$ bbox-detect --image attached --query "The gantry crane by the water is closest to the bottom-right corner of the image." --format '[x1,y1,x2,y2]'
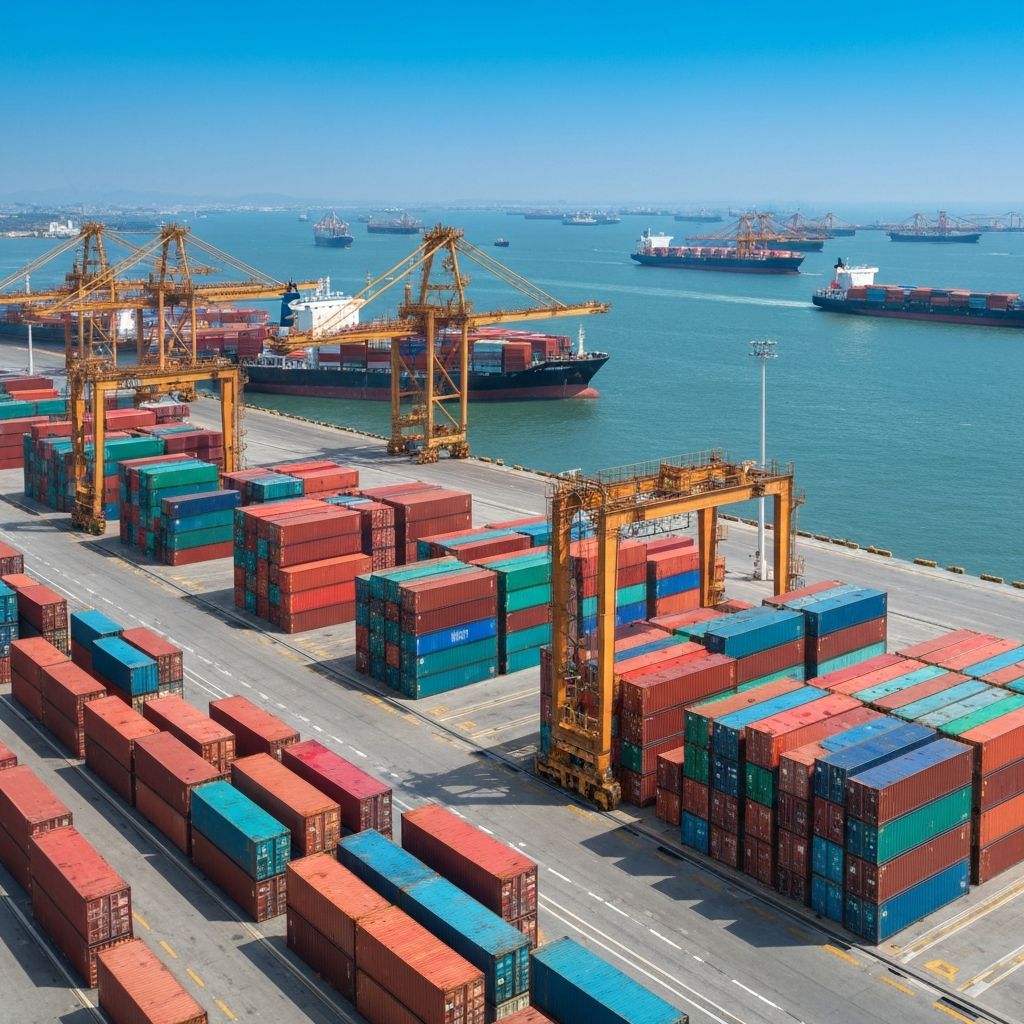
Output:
[529,439,810,804]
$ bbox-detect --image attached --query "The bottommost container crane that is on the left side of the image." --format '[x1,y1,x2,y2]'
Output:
[65,349,260,531]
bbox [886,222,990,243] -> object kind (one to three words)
ship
